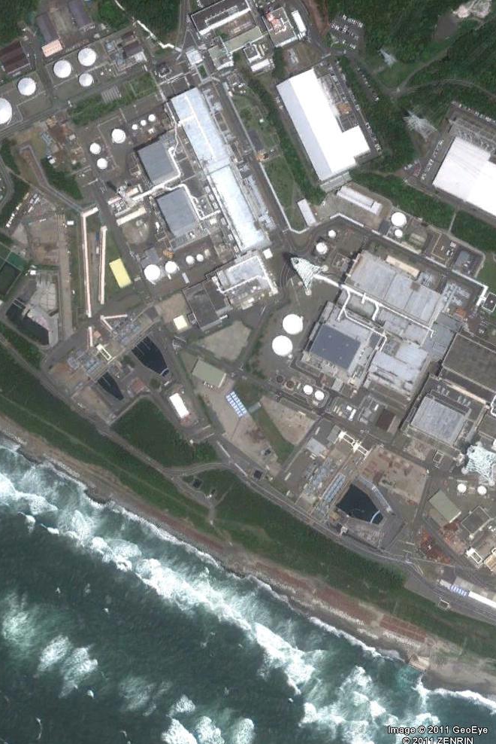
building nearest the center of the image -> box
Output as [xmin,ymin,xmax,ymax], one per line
[193,359,228,390]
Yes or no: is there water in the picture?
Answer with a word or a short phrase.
Yes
